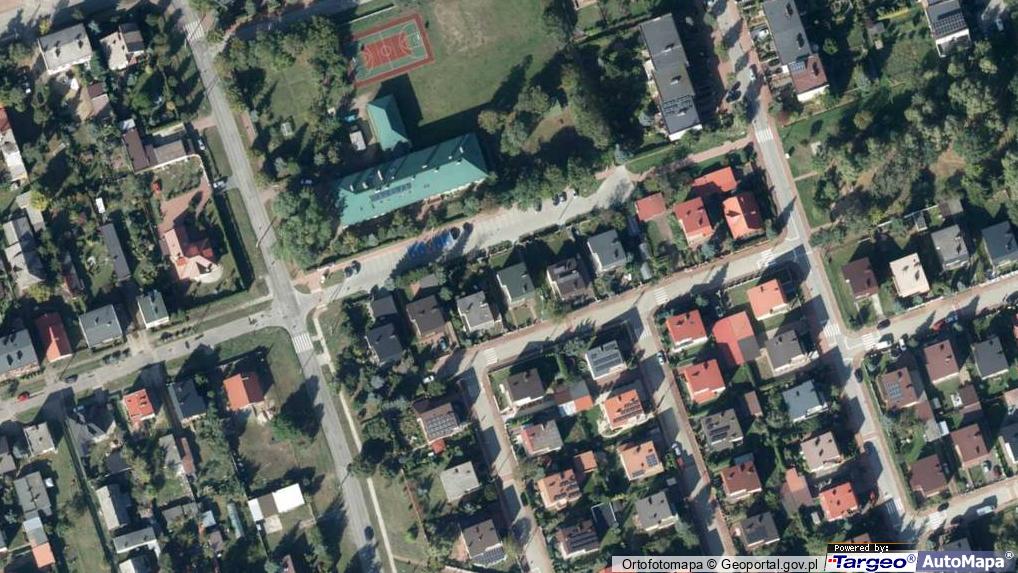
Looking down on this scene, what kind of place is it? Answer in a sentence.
What you see here is a residential area.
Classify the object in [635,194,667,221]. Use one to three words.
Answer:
building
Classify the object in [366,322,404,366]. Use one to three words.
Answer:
house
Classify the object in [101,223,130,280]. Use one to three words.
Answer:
shed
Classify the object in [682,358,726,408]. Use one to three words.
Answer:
house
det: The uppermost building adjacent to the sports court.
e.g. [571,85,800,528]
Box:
[366,95,412,151]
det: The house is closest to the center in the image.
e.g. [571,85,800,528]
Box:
[496,264,535,307]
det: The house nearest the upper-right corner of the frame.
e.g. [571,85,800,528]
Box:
[919,0,973,60]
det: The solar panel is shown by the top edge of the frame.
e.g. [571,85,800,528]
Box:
[933,14,964,37]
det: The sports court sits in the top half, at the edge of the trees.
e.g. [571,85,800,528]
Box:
[342,14,434,87]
